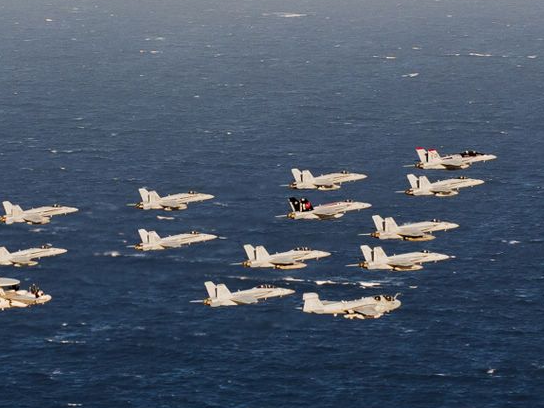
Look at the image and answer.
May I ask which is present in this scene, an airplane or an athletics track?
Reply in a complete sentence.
Of the two, only an airplane appears.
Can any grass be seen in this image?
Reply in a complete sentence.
No, there's no grass in this view.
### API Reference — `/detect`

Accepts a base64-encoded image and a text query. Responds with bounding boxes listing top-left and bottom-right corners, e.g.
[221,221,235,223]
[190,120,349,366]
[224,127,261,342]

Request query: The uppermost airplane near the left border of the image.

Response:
[0,201,78,223]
